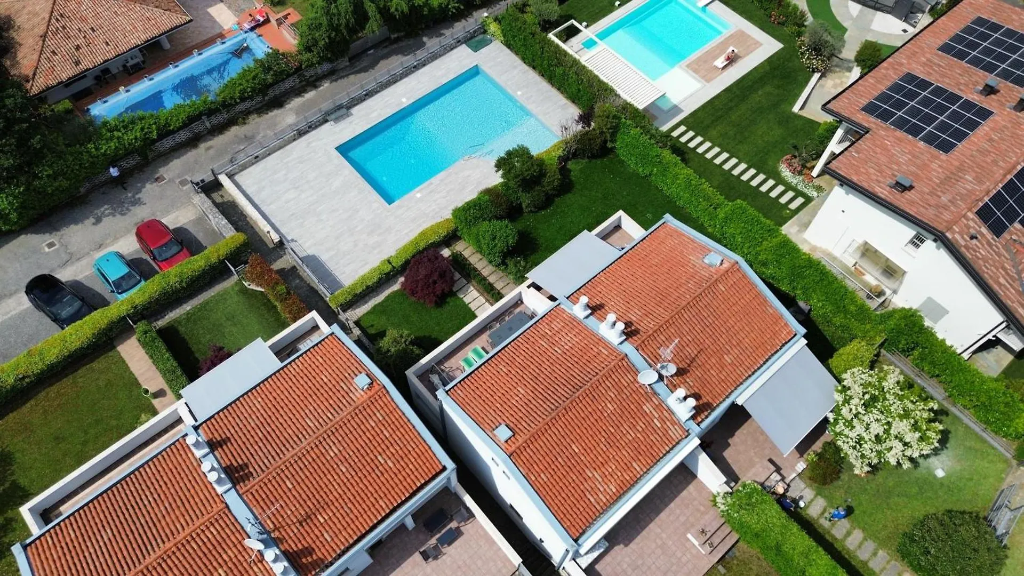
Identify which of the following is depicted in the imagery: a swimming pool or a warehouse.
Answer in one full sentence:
It is a swimming pool that can be seen here.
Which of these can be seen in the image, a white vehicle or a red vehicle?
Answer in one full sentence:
There is a red vehicle in the scene.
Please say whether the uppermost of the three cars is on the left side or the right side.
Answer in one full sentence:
The uppermost of the three cars is on the left side of the image.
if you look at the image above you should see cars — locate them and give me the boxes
[29,274,99,334]
[137,219,193,276]
[97,253,151,301]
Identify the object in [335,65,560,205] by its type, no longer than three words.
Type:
swimming pool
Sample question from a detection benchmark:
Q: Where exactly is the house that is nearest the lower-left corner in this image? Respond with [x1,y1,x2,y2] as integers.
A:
[12,309,456,576]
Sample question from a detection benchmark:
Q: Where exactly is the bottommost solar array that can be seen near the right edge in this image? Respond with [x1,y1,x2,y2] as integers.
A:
[976,167,1024,261]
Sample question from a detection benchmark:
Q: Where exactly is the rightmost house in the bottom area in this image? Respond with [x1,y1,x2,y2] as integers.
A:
[406,210,805,563]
